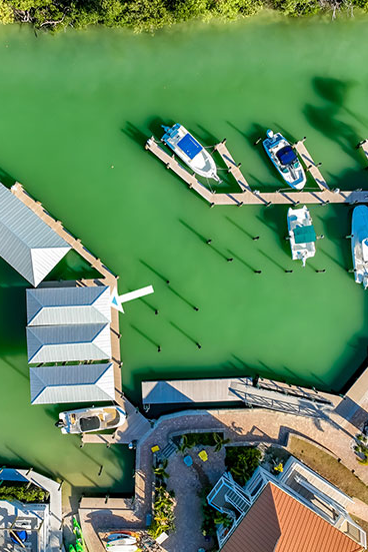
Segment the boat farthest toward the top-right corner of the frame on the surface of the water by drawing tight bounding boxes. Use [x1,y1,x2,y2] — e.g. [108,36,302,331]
[262,128,304,190]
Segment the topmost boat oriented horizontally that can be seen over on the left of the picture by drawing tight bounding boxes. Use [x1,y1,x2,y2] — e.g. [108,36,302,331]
[52,403,126,434]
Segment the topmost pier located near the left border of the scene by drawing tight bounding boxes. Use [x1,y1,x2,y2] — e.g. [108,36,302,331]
[10,181,125,400]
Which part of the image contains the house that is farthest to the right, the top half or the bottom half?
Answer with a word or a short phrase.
bottom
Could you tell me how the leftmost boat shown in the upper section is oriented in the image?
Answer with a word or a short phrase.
at an angle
